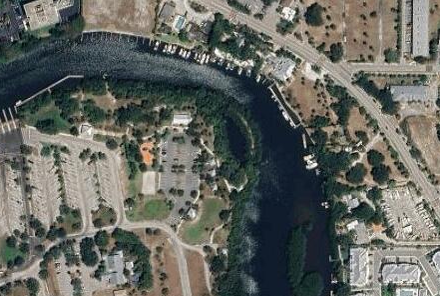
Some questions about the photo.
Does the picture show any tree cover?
Yes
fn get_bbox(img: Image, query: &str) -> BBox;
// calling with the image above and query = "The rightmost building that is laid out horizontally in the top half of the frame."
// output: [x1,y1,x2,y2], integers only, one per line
[391,85,428,101]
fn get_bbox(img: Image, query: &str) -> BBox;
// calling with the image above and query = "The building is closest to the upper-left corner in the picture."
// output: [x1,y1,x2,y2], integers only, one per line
[22,0,73,30]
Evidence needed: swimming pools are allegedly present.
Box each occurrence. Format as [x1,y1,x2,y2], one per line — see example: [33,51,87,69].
[174,14,185,32]
[396,287,419,296]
